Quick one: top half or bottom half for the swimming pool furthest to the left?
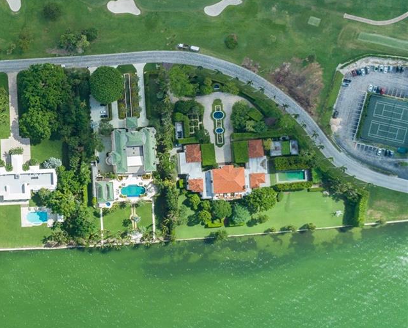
bottom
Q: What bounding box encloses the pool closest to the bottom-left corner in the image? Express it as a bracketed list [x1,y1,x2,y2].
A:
[21,207,55,227]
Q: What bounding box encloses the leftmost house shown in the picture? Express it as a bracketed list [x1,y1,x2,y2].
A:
[0,155,57,205]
